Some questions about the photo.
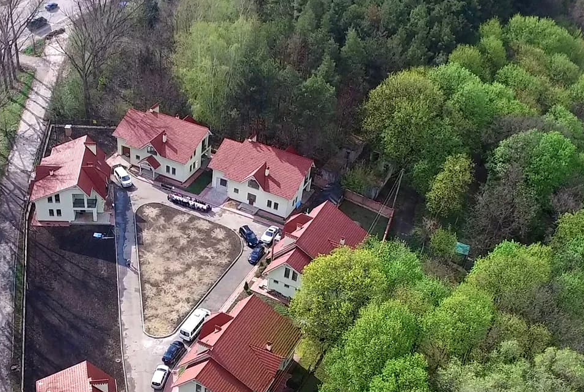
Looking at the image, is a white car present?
Yes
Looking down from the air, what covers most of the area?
trees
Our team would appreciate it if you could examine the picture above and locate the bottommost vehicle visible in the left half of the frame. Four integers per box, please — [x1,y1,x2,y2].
[151,368,168,387]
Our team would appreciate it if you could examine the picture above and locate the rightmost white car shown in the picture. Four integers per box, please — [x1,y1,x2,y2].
[262,227,278,242]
